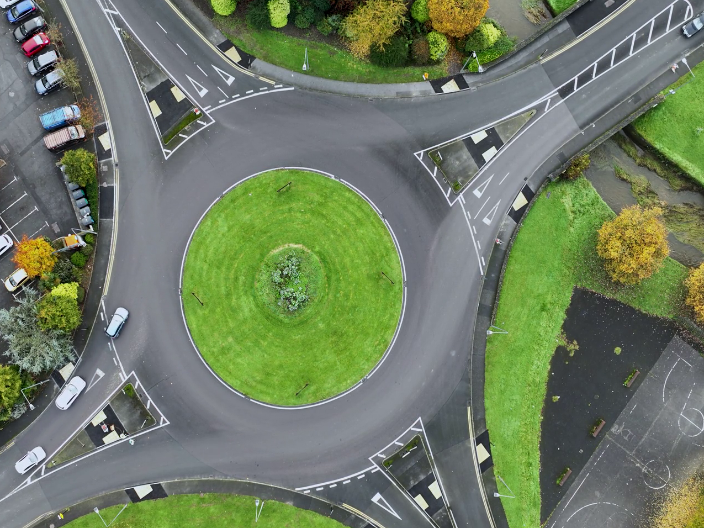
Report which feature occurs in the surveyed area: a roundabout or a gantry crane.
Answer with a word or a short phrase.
roundabout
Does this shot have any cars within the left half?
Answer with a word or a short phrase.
Yes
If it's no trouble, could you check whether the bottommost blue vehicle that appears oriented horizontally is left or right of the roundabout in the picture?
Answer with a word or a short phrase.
on the left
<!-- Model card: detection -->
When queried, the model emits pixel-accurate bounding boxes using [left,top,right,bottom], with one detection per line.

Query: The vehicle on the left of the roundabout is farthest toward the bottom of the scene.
[12,446,48,475]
